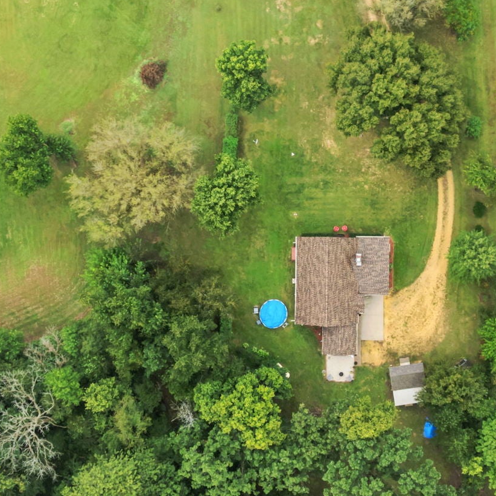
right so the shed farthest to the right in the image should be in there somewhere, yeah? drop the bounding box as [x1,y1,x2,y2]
[390,364,427,403]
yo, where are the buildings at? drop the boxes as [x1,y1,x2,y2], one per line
[294,238,391,356]
[390,364,427,403]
